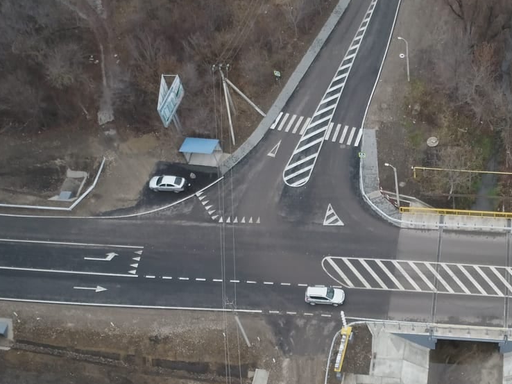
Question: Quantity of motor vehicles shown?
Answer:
two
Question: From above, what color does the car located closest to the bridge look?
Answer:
white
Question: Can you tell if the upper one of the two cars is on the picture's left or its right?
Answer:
left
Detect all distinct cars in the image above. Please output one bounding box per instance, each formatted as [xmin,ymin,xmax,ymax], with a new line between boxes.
[304,285,346,307]
[149,174,190,194]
